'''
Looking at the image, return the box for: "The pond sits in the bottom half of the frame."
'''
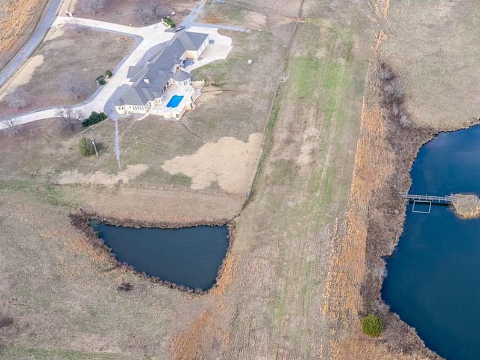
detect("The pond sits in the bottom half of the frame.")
[94,221,230,291]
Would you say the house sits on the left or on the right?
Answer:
left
